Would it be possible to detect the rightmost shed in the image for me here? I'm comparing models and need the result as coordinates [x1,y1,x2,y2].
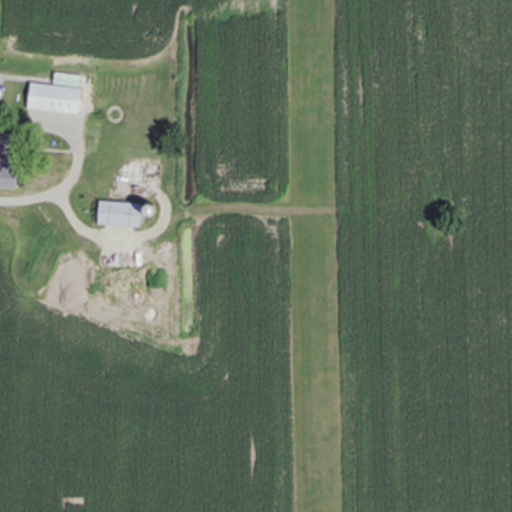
[97,200,142,228]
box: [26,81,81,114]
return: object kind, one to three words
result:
barn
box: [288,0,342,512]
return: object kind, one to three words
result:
runway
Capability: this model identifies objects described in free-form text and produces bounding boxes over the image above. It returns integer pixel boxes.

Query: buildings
[26,81,81,114]
[97,200,142,228]
[0,130,16,190]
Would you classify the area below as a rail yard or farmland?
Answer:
farmland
